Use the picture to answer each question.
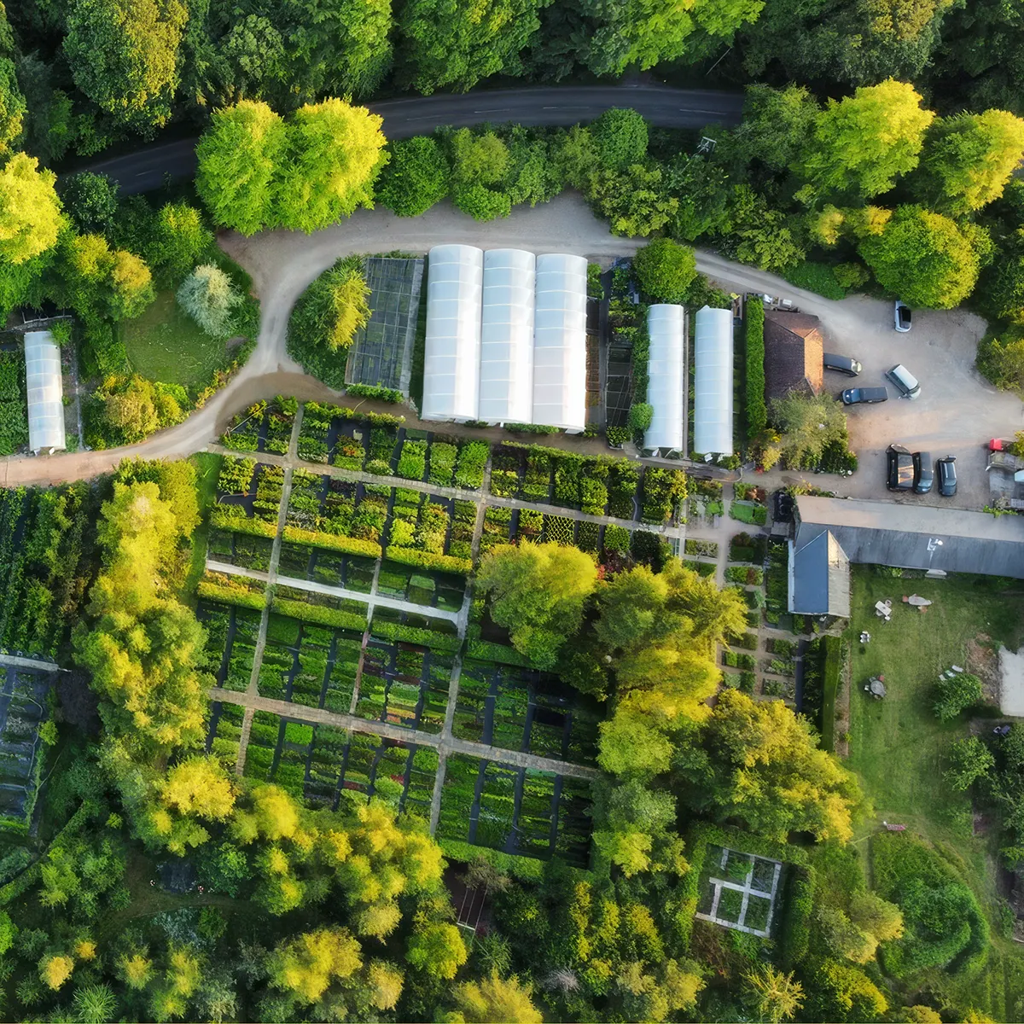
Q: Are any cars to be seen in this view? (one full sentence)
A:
Yes, I can see a car in this picture.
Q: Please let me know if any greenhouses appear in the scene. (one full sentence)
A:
Yes, a greenhouse appears in the view.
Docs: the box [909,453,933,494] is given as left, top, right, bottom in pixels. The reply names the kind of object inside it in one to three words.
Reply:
car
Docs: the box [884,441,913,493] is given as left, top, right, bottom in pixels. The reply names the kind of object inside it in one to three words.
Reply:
car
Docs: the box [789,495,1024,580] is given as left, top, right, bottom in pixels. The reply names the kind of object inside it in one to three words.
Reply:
barn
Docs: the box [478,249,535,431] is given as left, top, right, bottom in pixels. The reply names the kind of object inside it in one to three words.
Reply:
greenhouse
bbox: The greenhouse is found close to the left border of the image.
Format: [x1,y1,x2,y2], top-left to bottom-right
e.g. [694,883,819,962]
[21,333,65,453]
